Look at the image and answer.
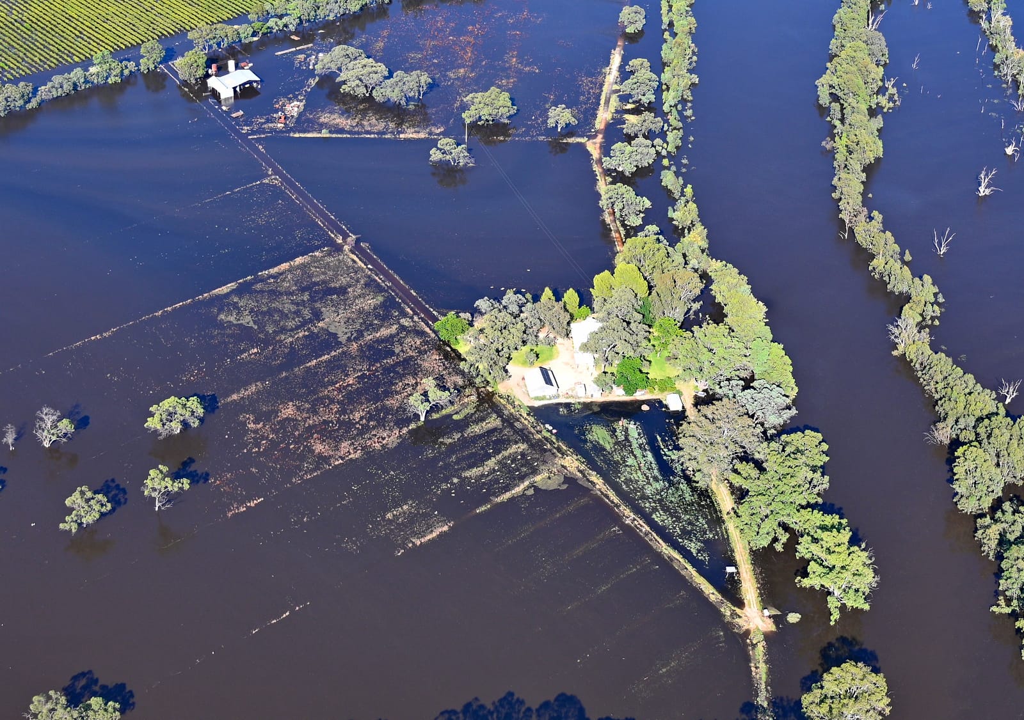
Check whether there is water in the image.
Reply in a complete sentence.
Yes, there's water in this view.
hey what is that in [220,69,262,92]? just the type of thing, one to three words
shed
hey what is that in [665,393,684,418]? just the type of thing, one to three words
shed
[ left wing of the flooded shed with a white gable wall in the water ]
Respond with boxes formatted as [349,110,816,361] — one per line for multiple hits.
[205,76,235,98]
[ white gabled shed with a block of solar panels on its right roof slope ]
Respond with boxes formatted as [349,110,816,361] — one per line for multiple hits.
[523,367,559,400]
